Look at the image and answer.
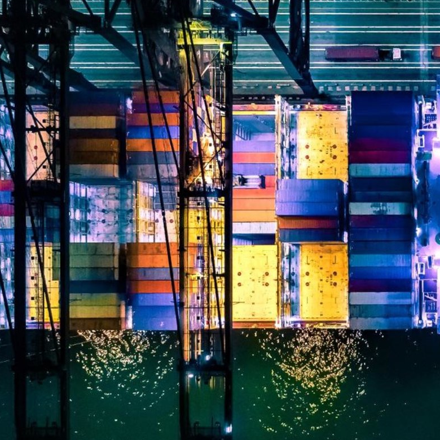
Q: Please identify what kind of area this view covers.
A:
port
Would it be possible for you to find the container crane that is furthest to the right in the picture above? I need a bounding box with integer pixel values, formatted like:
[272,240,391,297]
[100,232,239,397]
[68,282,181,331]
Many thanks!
[103,0,330,440]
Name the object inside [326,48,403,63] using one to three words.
vehicle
